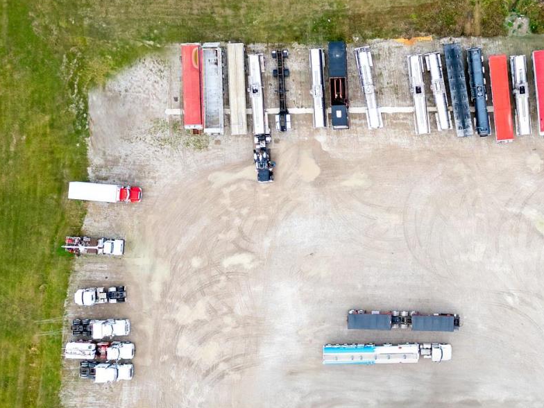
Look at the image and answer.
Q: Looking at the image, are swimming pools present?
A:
No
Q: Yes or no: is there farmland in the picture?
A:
No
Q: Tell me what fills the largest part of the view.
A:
paved ground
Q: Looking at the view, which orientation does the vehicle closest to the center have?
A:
up and down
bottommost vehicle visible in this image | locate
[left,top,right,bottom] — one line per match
[80,359,135,383]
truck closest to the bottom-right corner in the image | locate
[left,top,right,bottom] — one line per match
[415,341,452,362]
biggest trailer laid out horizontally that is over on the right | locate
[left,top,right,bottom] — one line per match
[323,340,418,362]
